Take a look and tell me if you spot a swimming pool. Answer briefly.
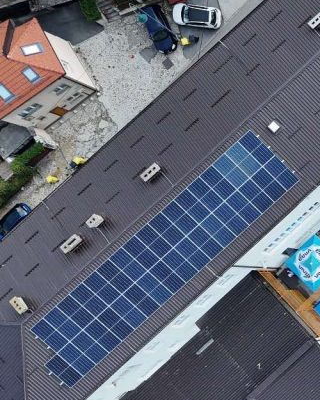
No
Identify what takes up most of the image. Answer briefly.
buildings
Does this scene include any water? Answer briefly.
No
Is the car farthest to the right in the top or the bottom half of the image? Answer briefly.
top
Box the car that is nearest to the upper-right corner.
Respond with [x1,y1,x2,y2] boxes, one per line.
[172,0,224,33]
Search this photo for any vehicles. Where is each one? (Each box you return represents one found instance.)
[141,6,179,58]
[172,0,224,33]
[0,199,34,236]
